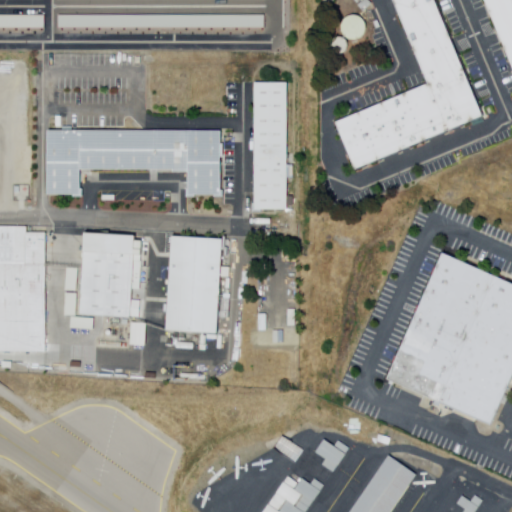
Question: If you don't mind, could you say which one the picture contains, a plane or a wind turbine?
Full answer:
This aerial view contains a plane.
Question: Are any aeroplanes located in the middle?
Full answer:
No, no aeroplane appears in the middle.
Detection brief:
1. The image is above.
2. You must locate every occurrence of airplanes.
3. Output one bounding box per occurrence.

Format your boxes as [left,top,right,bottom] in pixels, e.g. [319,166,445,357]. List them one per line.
[412,470,436,488]
[208,466,226,485]
[232,456,249,480]
[252,459,273,474]
[195,488,210,508]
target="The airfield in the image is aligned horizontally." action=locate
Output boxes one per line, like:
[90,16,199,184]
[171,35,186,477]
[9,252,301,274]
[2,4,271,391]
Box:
[0,383,512,512]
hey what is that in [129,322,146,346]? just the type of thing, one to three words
building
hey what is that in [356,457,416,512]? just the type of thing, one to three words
hangar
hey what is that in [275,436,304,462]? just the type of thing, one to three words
hangar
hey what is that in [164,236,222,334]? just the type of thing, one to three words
building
